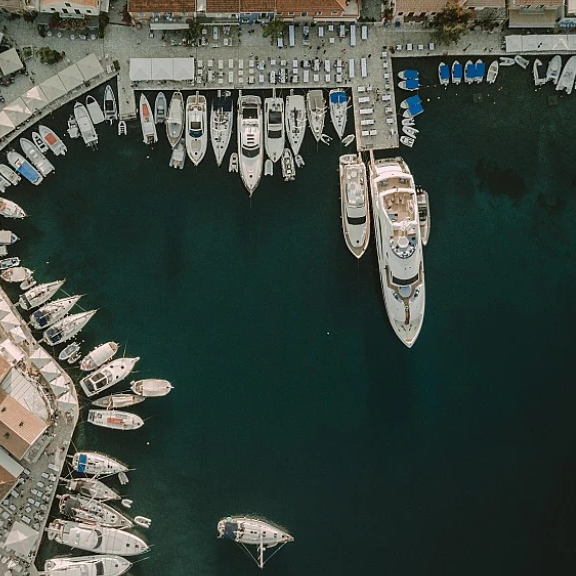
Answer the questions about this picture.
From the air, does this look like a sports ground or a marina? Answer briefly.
marina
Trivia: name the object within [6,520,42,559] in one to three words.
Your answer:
tent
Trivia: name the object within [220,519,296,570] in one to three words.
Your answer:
boat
